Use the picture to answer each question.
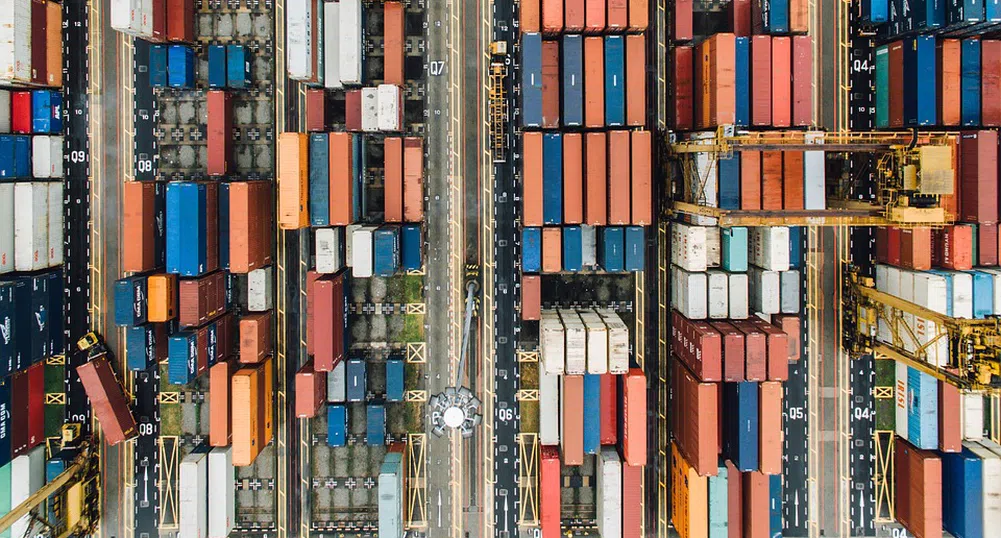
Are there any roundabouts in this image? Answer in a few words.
No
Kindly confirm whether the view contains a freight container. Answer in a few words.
Yes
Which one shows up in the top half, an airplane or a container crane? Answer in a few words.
container crane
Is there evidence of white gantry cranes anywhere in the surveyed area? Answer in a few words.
No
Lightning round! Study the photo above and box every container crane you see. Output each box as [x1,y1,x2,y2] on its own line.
[841,271,1001,403]
[0,441,103,538]
[651,125,955,224]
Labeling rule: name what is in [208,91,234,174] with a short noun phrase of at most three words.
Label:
shipping container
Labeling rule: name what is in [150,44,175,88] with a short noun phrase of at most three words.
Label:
shipping container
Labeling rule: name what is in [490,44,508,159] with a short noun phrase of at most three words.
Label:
vehicle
